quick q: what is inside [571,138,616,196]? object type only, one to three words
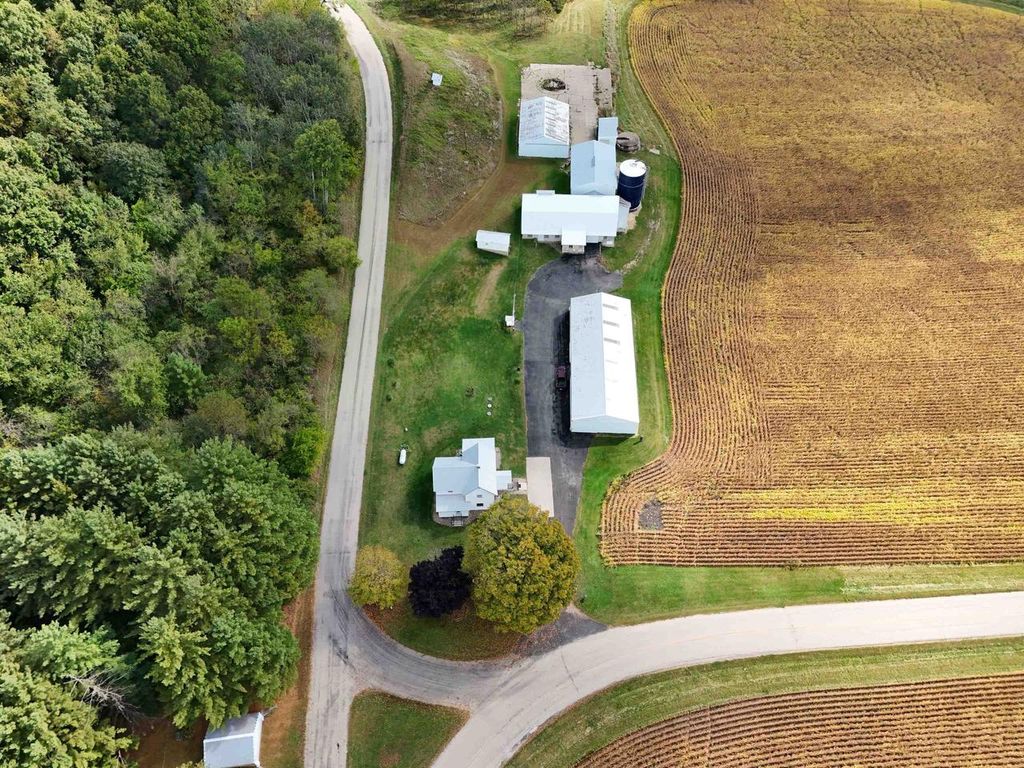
barn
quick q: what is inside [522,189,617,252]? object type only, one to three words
barn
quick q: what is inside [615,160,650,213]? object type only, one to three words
silo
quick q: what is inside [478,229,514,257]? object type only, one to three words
shed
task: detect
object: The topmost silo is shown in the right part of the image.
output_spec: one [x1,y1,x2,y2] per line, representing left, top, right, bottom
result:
[616,131,640,151]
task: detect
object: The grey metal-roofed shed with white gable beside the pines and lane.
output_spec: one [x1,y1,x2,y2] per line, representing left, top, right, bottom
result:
[204,713,261,768]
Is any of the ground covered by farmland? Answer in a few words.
Yes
